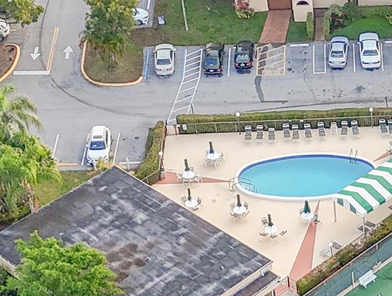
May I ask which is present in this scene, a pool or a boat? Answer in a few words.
pool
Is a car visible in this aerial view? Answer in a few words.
Yes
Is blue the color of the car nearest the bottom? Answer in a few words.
No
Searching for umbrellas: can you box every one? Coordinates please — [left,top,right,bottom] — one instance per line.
[186,187,195,208]
[267,214,274,229]
[209,141,216,156]
[235,193,243,209]
[184,159,191,174]
[302,199,311,215]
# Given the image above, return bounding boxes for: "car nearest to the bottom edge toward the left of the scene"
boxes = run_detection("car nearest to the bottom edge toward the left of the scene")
[84,124,112,161]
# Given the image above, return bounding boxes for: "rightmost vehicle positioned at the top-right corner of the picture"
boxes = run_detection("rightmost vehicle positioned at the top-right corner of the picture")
[357,36,381,68]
